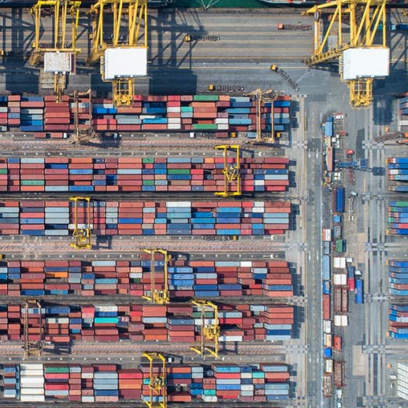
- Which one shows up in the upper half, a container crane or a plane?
container crane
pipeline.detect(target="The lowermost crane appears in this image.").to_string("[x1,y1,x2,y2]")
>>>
[139,352,167,408]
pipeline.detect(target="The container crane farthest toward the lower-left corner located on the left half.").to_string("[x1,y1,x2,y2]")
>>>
[21,297,45,357]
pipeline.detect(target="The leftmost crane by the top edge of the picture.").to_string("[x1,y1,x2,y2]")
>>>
[29,0,83,100]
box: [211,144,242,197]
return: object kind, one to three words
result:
container crane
